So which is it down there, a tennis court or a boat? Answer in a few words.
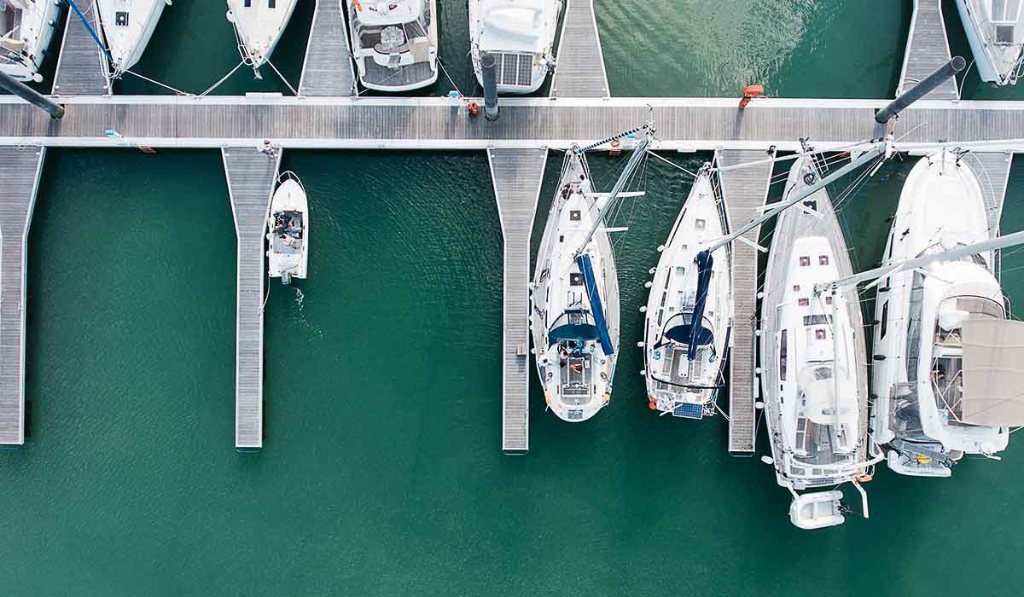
boat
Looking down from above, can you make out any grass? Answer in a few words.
No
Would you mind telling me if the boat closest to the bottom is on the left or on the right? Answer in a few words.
right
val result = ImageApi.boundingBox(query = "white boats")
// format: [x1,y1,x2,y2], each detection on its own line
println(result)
[787,488,852,531]
[755,137,1024,518]
[349,0,443,94]
[868,142,1024,466]
[949,0,1024,92]
[69,0,162,79]
[531,97,663,422]
[468,0,561,96]
[224,0,298,80]
[644,117,937,419]
[269,170,310,282]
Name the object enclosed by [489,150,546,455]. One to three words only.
pier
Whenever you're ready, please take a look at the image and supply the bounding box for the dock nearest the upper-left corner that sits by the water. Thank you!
[52,0,114,96]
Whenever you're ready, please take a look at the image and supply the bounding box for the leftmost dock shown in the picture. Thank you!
[0,147,49,449]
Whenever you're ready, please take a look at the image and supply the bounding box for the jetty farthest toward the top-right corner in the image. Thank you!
[893,0,958,101]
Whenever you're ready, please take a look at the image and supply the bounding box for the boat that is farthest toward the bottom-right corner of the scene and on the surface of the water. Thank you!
[884,440,954,480]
